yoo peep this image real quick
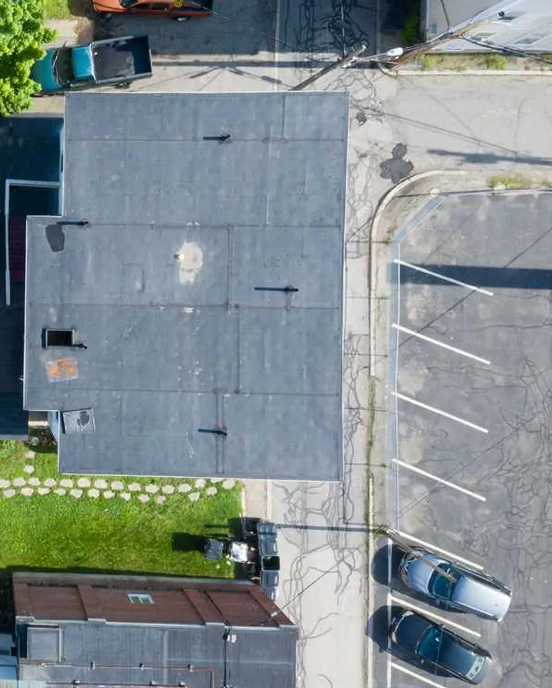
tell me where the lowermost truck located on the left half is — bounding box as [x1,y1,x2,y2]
[31,38,152,95]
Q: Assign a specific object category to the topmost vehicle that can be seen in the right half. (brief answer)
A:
automobile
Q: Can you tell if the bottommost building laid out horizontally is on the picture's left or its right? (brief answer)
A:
left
